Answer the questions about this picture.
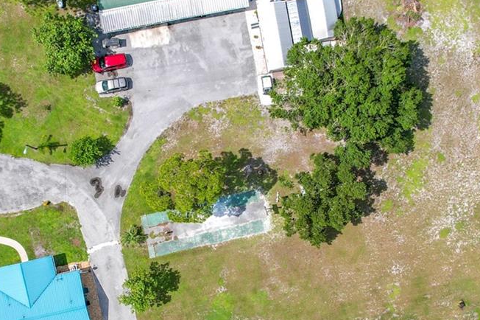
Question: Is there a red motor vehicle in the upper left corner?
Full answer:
Yes, there is a red motor vehicle in the upper left corner.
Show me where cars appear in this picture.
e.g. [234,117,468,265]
[94,77,129,96]
[92,54,129,74]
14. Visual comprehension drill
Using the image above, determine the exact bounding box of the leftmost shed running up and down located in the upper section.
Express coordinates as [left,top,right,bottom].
[256,1,296,74]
